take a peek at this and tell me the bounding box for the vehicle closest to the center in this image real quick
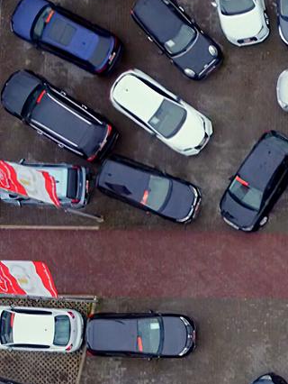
[97,153,202,225]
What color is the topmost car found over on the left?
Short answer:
blue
